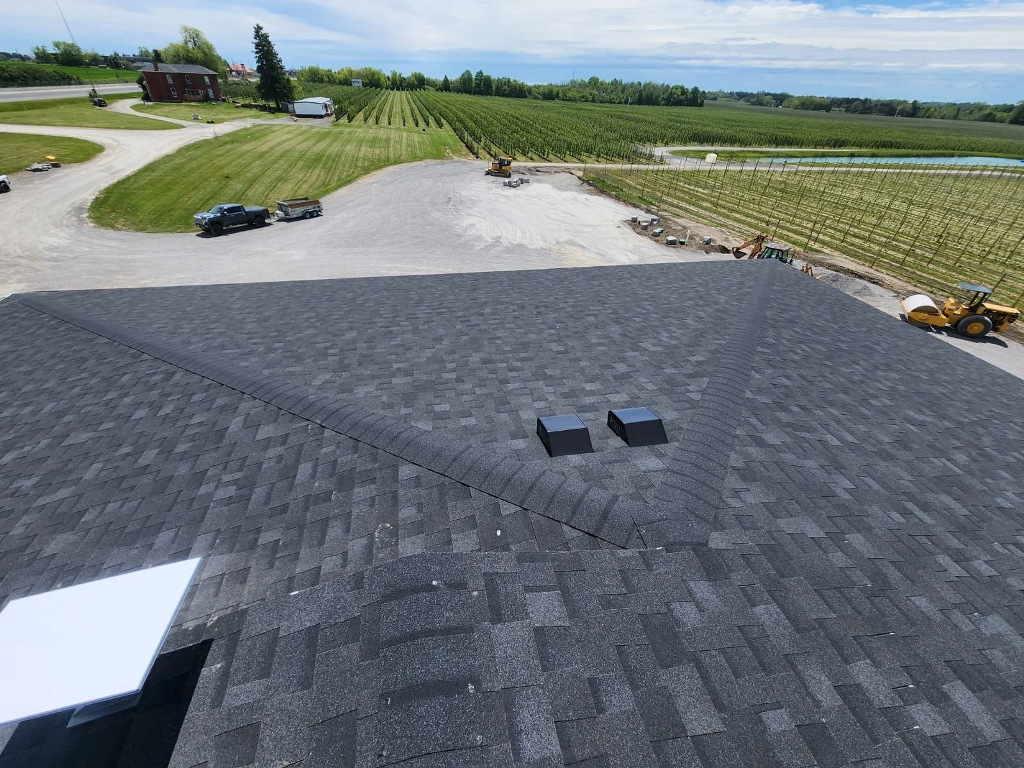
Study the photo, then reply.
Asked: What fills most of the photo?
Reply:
buildings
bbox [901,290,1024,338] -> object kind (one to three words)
work vehicle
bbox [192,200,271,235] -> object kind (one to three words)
truck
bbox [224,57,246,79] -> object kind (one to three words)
building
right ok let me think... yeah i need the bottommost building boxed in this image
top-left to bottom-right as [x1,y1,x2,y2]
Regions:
[0,258,1024,768]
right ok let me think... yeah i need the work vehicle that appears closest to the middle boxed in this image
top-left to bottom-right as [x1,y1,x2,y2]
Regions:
[486,160,512,178]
